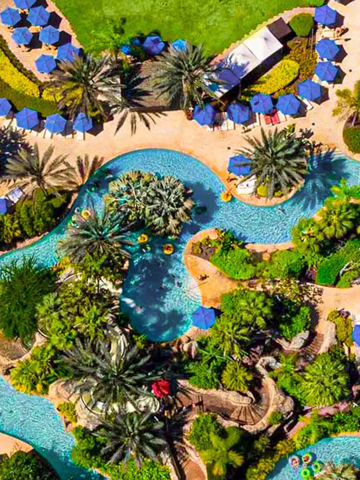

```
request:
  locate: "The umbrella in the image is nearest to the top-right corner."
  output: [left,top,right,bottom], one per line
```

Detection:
[314,5,335,26]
